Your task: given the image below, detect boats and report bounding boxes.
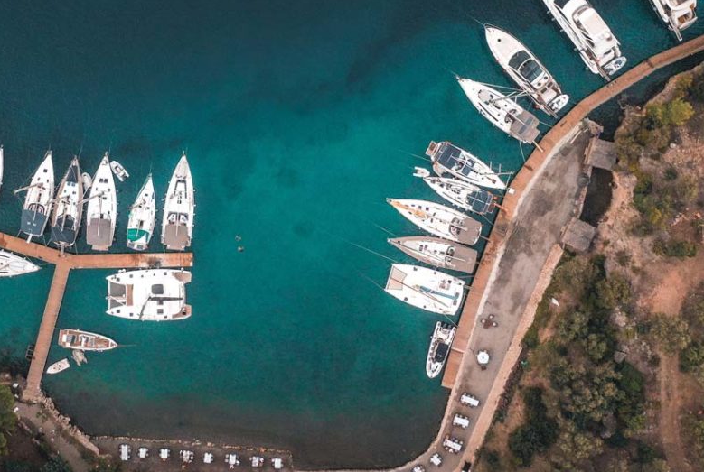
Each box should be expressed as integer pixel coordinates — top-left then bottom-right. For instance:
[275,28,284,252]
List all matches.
[541,0,621,85]
[409,140,521,192]
[414,167,431,178]
[429,323,454,380]
[546,95,568,113]
[422,176,509,228]
[455,77,545,162]
[72,350,88,366]
[14,139,56,248]
[361,225,484,274]
[83,173,92,189]
[76,141,122,251]
[603,57,628,74]
[54,328,118,353]
[111,162,127,181]
[432,164,445,177]
[43,145,85,256]
[471,16,573,117]
[159,144,198,251]
[0,250,51,279]
[47,359,71,375]
[347,240,475,325]
[105,266,193,323]
[127,158,159,254]
[384,197,490,255]
[639,0,701,41]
